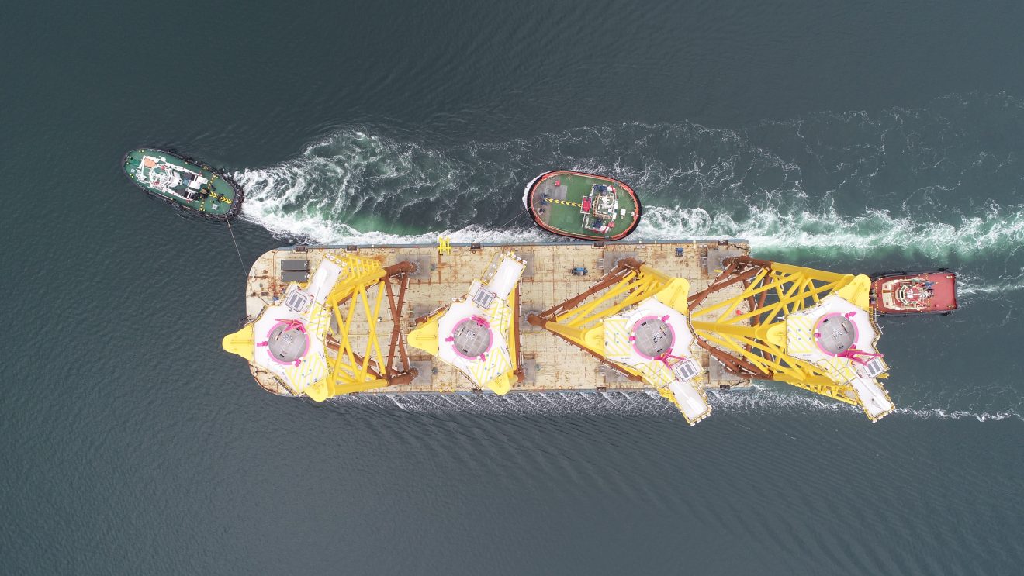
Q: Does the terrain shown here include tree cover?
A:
No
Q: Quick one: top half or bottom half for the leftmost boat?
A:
top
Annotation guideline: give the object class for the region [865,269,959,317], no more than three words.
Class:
boat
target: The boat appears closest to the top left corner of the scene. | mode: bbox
[120,147,247,222]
